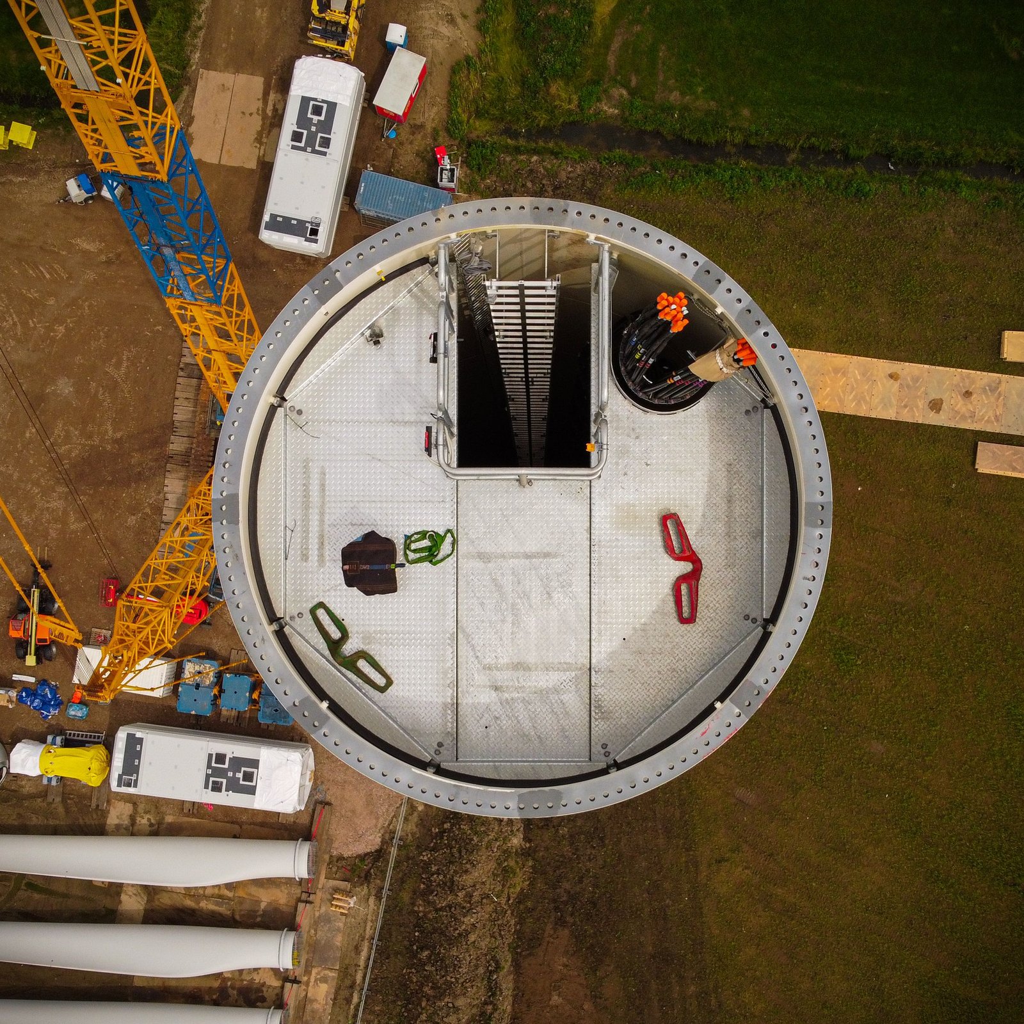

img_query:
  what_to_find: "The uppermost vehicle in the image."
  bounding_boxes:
[304,0,365,67]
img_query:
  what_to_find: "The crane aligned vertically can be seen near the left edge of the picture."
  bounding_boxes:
[0,0,261,706]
